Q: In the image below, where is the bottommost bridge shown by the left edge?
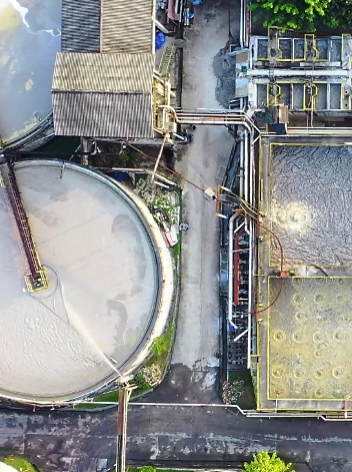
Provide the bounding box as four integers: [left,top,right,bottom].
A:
[0,160,50,292]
